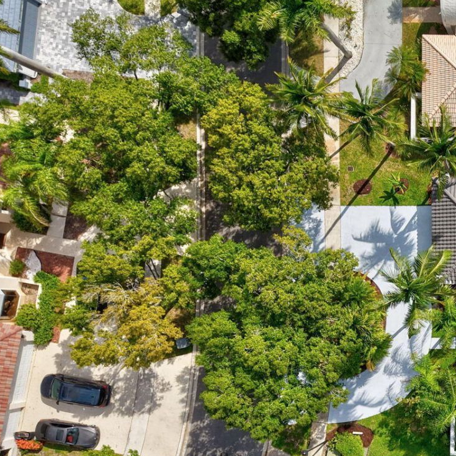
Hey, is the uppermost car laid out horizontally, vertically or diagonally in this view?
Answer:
horizontally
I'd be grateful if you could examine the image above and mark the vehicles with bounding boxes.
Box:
[34,375,109,409]
[29,421,100,455]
